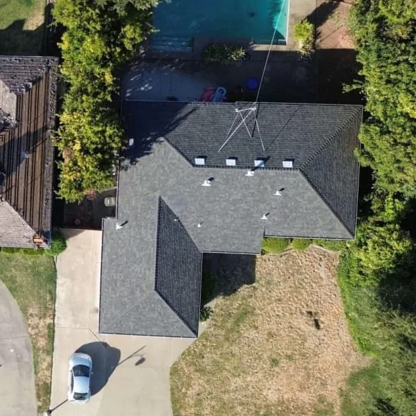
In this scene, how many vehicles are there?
one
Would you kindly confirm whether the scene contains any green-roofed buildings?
No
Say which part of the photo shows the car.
bottom left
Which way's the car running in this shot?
vertically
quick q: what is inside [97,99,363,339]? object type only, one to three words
house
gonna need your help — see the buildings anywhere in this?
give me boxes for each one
[0,54,60,250]
[97,99,363,339]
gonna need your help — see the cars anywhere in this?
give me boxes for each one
[68,351,95,403]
